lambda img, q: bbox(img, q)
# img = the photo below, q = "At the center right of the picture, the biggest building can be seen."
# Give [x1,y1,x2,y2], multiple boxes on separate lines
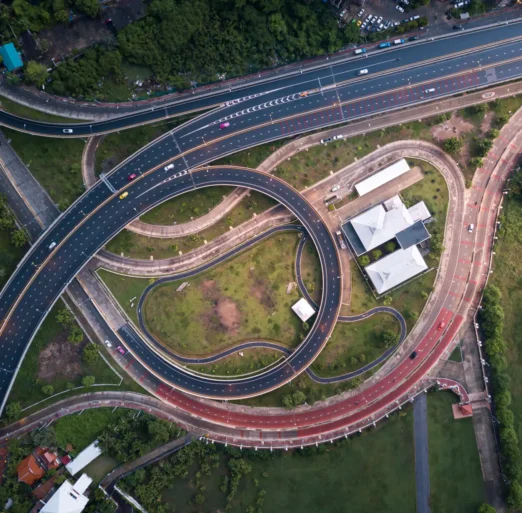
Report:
[341,194,431,255]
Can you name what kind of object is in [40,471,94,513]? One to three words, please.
building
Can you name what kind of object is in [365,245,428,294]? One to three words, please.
building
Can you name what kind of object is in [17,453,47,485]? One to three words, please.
house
